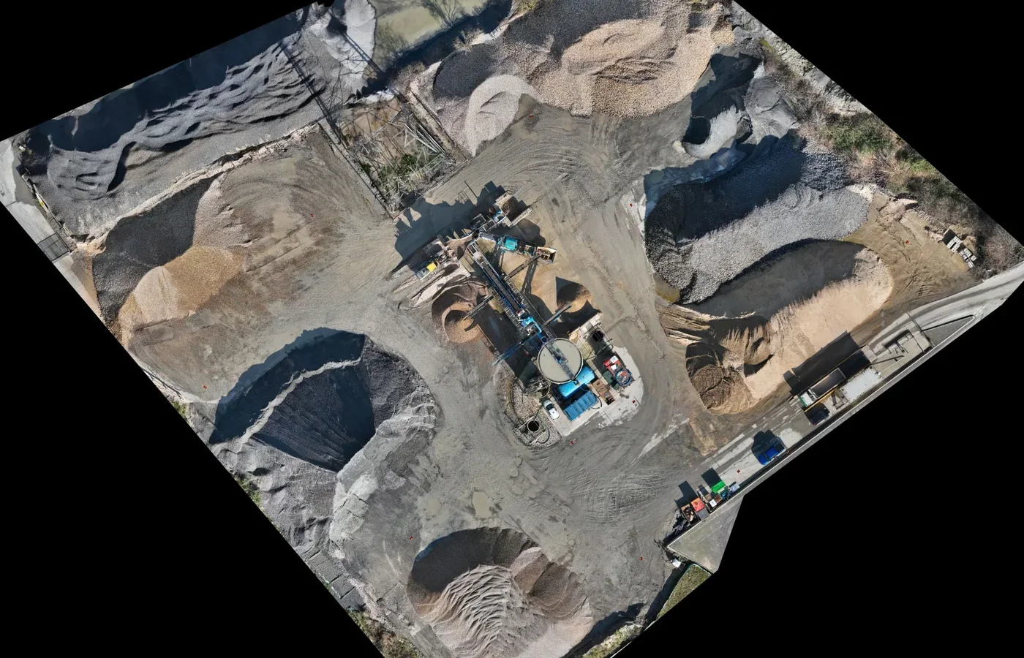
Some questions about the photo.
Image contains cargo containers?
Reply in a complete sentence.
Yes, a cargo container appears in the view.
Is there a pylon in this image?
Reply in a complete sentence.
Yes, there's a pylon down there.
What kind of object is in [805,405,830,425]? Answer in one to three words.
car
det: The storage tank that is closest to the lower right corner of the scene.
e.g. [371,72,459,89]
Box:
[557,368,596,404]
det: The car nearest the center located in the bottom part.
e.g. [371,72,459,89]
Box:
[542,399,561,421]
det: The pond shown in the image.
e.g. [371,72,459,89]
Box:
[371,0,505,80]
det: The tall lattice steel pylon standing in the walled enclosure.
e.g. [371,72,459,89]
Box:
[348,93,453,206]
